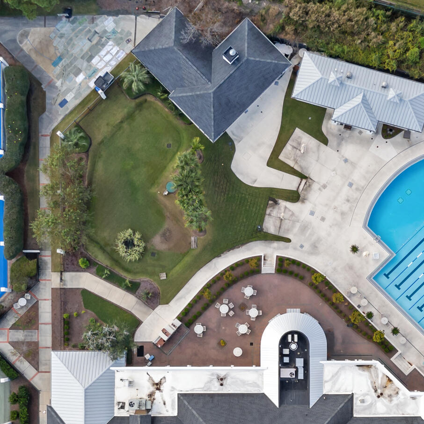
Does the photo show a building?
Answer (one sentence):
Yes, a building is visible in the scene.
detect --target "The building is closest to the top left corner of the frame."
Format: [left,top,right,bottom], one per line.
[130,6,293,143]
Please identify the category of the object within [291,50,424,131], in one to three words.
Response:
building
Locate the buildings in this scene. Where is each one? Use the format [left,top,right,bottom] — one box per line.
[130,6,293,143]
[291,50,424,131]
[47,307,424,424]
